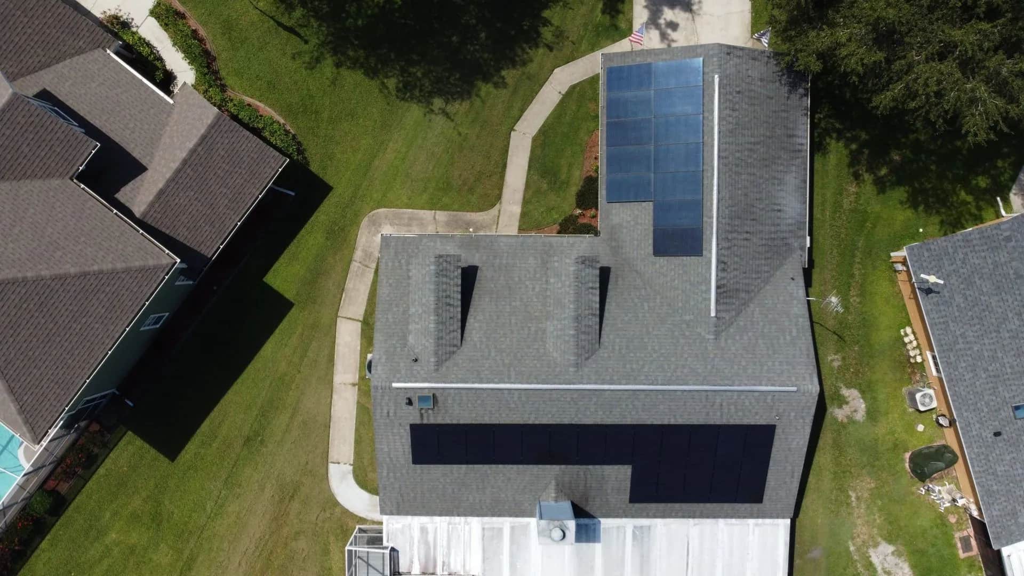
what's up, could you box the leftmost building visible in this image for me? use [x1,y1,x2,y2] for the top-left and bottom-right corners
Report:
[0,0,306,449]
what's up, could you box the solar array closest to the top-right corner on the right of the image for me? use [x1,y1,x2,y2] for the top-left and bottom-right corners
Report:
[607,58,702,255]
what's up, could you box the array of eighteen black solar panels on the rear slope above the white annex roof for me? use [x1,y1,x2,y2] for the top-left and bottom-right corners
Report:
[410,423,776,503]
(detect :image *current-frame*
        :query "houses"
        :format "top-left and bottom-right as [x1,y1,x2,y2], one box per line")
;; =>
[371,43,820,576]
[0,0,306,449]
[887,215,1024,576]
